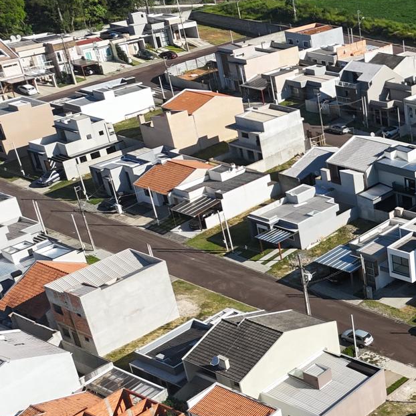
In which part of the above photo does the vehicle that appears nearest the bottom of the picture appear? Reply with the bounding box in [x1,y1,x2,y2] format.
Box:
[343,324,374,345]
